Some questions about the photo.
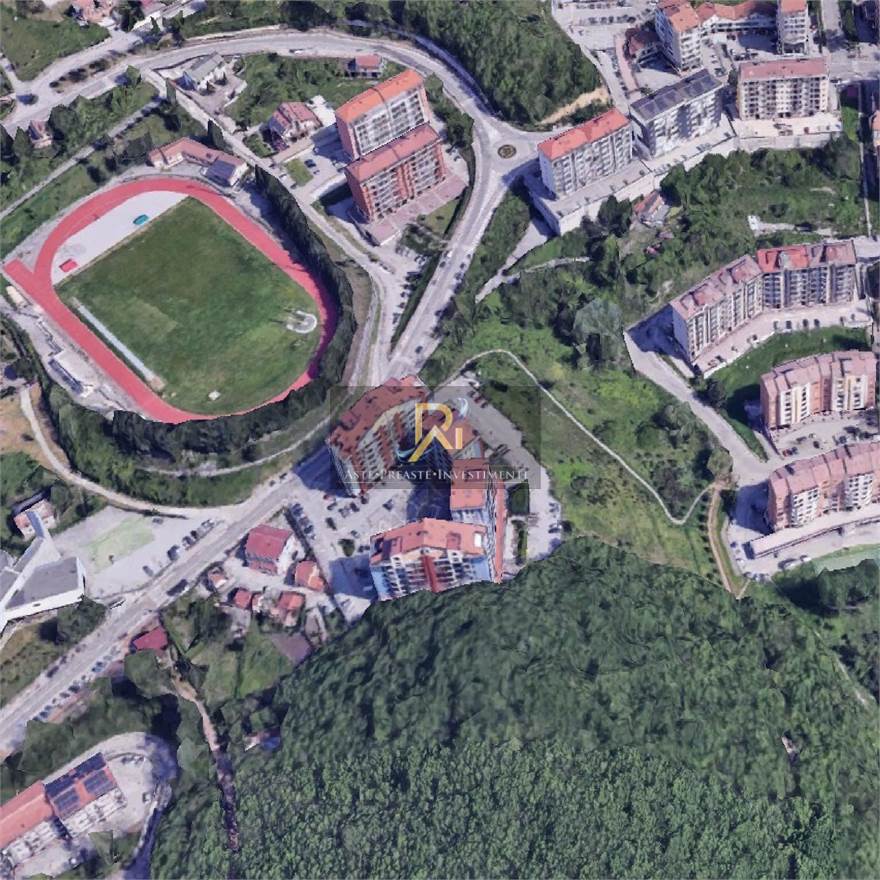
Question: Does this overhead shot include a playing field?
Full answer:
Yes, a playing field is visible in the scene.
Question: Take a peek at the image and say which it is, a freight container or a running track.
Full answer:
It is a running track that can be seen here.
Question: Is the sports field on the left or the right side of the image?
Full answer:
It is on the left.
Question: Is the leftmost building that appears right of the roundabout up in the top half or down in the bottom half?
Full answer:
You can find the leftmost building that appears right of the roundabout in the top half.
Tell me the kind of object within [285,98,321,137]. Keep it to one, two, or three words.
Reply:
house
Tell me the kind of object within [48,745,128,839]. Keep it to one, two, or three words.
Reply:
building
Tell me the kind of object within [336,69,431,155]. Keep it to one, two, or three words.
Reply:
building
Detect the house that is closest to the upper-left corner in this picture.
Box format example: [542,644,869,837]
[74,2,119,28]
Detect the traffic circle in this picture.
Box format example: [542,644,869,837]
[478,131,535,172]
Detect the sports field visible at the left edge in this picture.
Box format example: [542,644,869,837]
[3,179,334,433]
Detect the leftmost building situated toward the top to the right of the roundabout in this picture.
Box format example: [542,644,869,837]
[538,107,634,198]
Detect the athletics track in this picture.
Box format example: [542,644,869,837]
[32,179,334,433]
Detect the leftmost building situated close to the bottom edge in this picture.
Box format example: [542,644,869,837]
[0,765,64,878]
